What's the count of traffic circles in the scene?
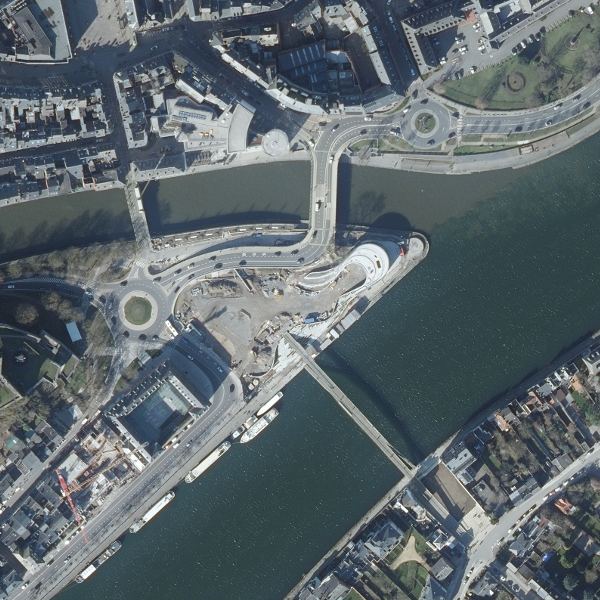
2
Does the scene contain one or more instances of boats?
Yes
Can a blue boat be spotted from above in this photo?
No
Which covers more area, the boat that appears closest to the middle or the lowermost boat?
the lowermost boat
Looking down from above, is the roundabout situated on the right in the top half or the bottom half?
top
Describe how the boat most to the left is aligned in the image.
on a diagonal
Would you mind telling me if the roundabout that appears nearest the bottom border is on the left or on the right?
left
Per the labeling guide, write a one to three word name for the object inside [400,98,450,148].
roundabout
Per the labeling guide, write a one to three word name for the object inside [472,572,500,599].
house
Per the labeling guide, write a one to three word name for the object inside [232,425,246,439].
boat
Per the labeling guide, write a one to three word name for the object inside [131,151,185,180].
building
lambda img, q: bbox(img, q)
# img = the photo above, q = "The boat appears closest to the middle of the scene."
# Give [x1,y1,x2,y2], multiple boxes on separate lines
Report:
[256,391,284,415]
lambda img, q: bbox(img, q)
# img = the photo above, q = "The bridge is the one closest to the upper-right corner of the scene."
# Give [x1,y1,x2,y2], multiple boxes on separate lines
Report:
[309,156,338,228]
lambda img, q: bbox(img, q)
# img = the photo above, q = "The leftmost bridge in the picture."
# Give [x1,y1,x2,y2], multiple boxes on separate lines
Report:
[125,179,152,248]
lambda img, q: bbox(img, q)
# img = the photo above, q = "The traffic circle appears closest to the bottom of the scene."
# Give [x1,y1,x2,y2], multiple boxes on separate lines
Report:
[105,278,172,343]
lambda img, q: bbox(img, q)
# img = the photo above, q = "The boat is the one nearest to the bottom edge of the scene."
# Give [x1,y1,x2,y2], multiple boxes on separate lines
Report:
[76,543,122,583]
